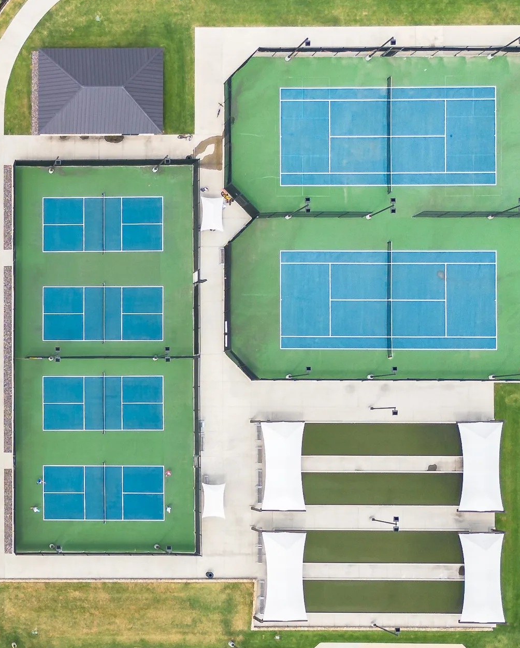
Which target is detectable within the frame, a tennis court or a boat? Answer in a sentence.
It is a tennis court that can be seen here.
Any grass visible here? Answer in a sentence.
Yes, there is grass in the image.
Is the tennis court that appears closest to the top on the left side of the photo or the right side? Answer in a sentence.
The tennis court that appears closest to the top sits on the right side.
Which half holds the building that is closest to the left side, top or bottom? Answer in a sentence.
It is in the top half that the building that is closest to the left side appears.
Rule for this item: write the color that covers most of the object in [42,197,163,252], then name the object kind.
blue sports court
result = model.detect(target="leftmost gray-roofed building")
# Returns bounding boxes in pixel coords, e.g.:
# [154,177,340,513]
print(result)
[37,47,164,137]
